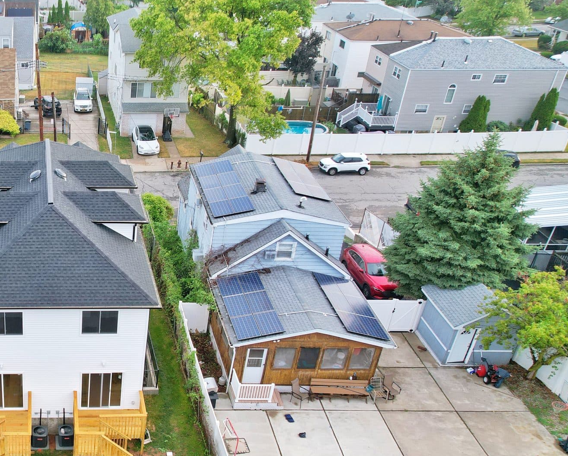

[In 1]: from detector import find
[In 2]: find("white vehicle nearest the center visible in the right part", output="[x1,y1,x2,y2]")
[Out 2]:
[315,152,380,179]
